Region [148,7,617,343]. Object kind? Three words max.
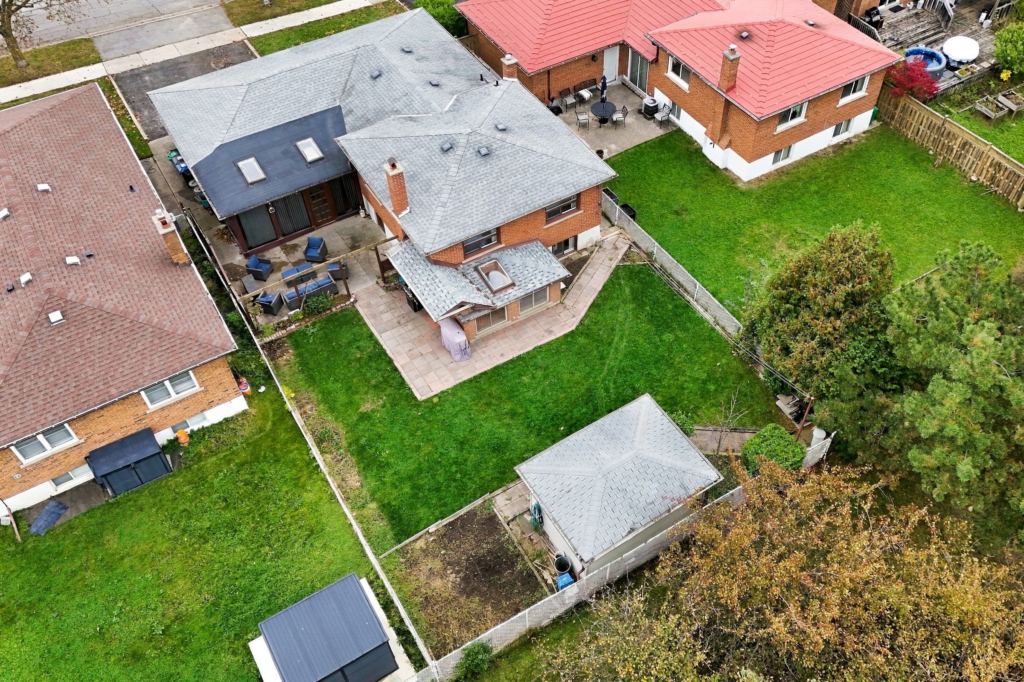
house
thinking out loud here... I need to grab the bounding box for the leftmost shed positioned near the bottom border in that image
[255,569,398,682]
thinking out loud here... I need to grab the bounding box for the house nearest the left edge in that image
[0,84,248,516]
